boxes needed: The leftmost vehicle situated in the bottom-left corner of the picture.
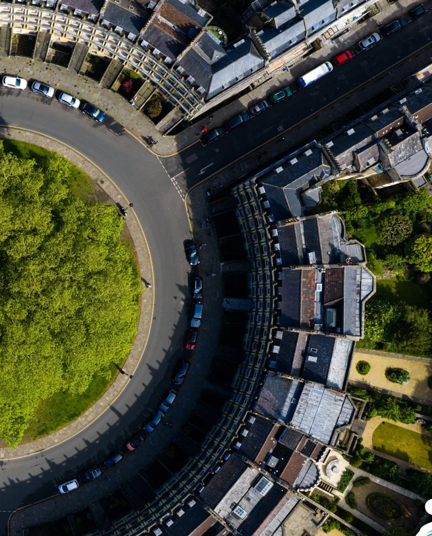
[57,478,80,494]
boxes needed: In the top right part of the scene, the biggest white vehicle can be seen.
[296,61,332,89]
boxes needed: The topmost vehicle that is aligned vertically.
[183,239,198,265]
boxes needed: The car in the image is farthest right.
[406,2,429,21]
